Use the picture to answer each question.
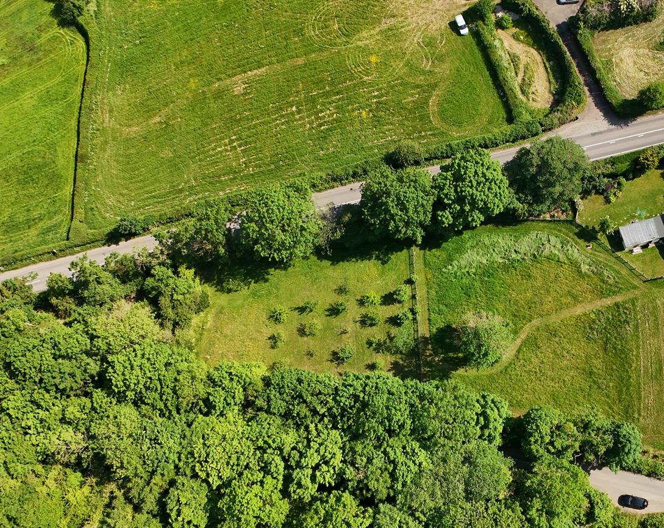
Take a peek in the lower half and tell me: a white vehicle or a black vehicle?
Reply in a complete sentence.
The one visible in the lower half is a black vehicle.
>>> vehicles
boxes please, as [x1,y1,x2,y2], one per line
[453,11,470,37]
[558,0,579,6]
[618,493,648,509]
